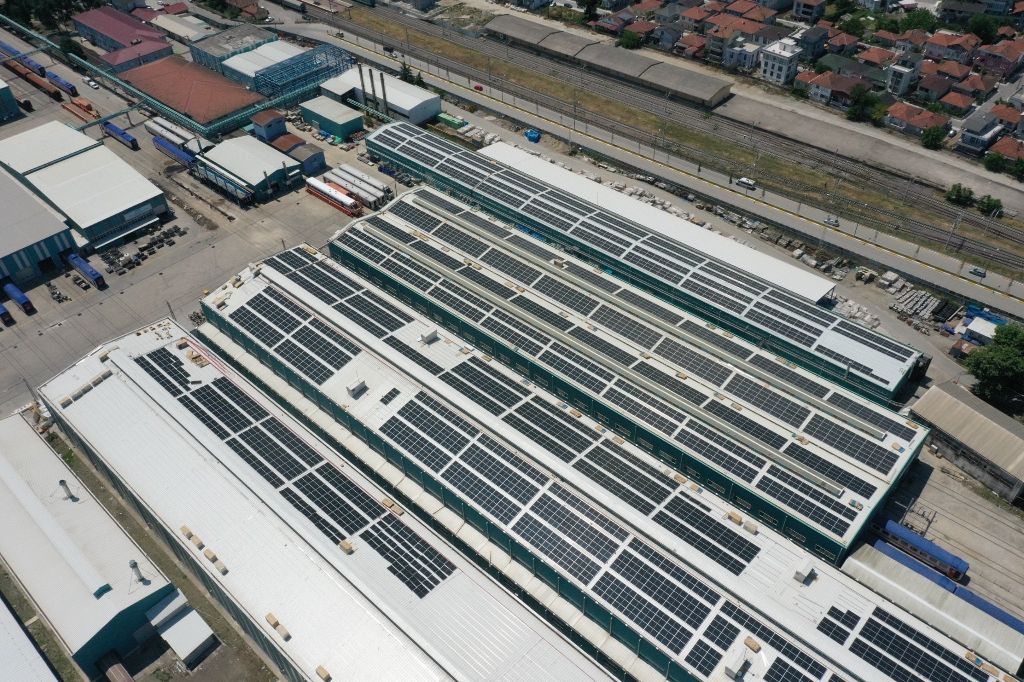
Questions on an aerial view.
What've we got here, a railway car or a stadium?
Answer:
railway car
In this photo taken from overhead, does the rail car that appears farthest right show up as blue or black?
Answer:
blue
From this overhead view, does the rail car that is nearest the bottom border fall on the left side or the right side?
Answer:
left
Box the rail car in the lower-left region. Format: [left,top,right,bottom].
[101,646,143,682]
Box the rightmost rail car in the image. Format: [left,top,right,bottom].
[958,585,1024,637]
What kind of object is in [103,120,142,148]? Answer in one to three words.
rail car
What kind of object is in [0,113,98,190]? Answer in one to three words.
building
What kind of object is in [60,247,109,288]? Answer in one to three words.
rail car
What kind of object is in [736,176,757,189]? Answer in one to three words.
vehicle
